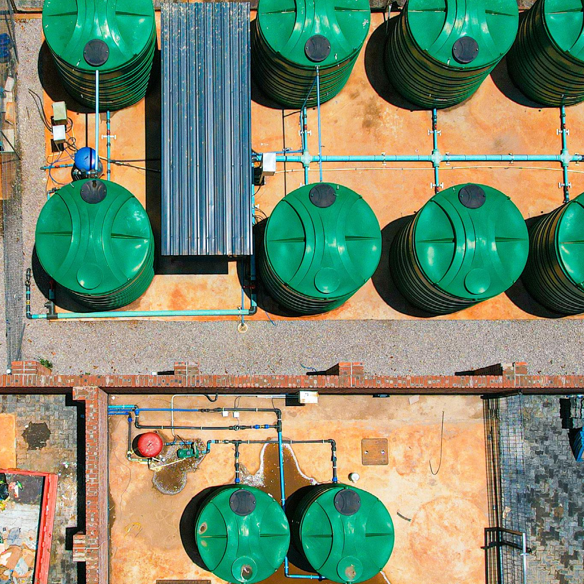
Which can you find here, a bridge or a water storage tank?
water storage tank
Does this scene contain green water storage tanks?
Yes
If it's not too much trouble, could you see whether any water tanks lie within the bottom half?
Yes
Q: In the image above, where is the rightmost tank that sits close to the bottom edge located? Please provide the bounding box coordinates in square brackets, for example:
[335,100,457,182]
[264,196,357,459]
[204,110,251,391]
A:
[291,482,394,584]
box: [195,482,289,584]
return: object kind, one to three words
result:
water tank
